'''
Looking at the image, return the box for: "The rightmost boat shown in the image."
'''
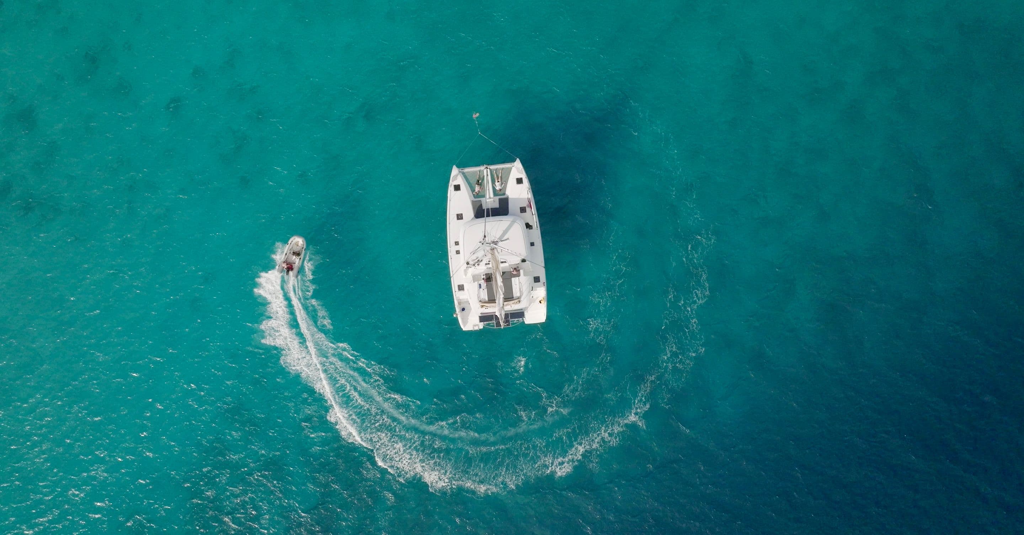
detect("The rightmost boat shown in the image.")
[447,159,547,331]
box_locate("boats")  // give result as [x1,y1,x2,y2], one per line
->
[447,159,547,331]
[278,234,307,276]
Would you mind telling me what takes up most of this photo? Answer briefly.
water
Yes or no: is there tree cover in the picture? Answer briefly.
No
